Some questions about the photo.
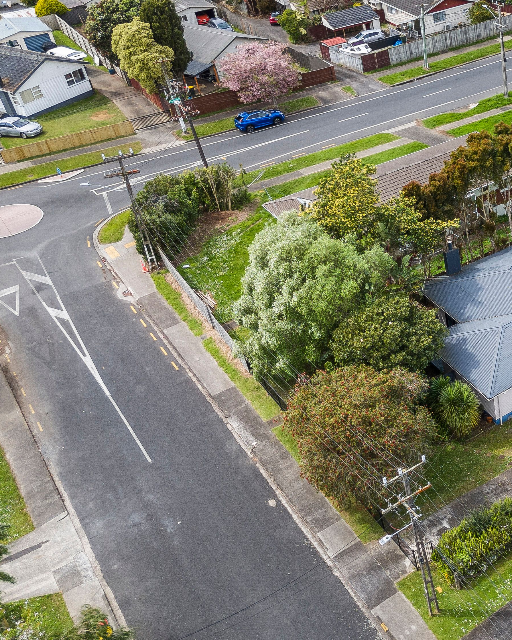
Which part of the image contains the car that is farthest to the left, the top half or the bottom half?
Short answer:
top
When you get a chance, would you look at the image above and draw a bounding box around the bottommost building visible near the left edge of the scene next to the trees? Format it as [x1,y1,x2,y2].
[0,38,94,116]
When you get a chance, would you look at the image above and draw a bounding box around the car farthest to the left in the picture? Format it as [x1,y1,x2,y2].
[0,119,39,140]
